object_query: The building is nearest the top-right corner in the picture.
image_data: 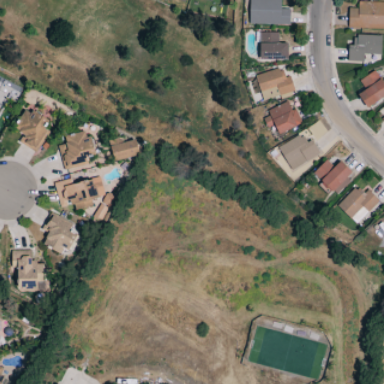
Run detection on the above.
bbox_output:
[349,0,384,28]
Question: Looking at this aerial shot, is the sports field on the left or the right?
right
